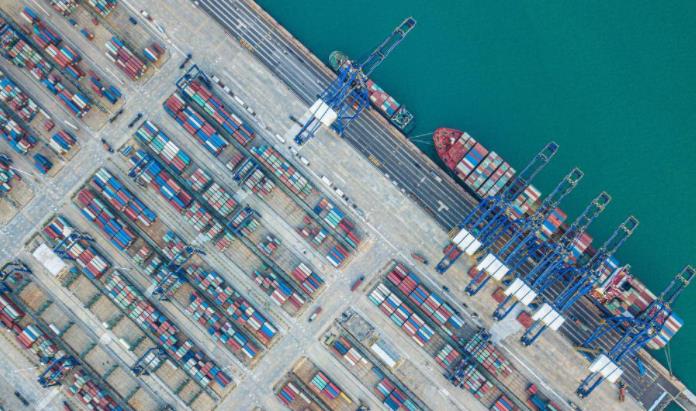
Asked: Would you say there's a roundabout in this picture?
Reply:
No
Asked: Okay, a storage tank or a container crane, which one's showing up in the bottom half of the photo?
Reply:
container crane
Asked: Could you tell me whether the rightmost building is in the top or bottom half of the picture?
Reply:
bottom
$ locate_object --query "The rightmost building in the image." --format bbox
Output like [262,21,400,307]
[368,335,404,370]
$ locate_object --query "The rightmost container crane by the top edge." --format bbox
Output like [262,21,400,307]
[292,10,419,147]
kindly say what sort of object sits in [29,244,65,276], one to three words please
shed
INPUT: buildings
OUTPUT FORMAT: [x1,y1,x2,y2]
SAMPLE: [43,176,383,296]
[29,244,65,276]
[368,335,404,370]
